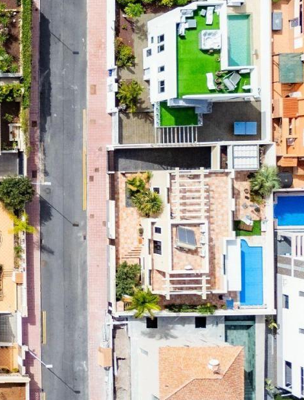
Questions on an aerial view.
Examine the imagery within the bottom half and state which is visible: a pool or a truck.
pool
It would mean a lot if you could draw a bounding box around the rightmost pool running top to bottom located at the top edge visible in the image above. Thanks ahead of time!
[227,13,251,67]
